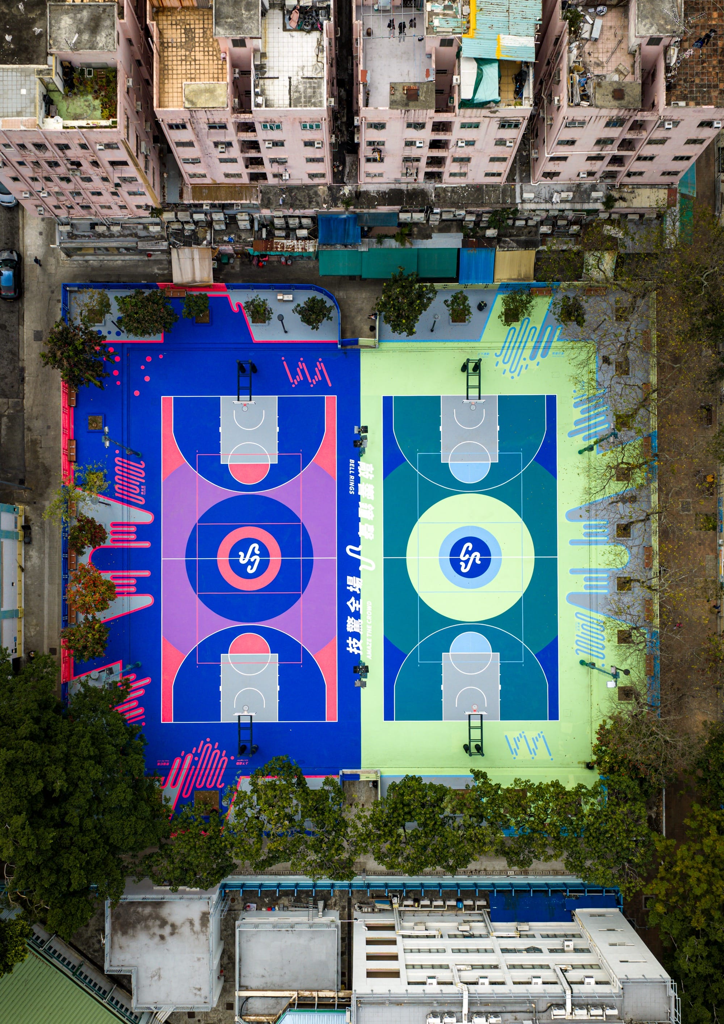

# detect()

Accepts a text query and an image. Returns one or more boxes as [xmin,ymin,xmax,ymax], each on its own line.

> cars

[0,246,18,300]
[0,174,16,203]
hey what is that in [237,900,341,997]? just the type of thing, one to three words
building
